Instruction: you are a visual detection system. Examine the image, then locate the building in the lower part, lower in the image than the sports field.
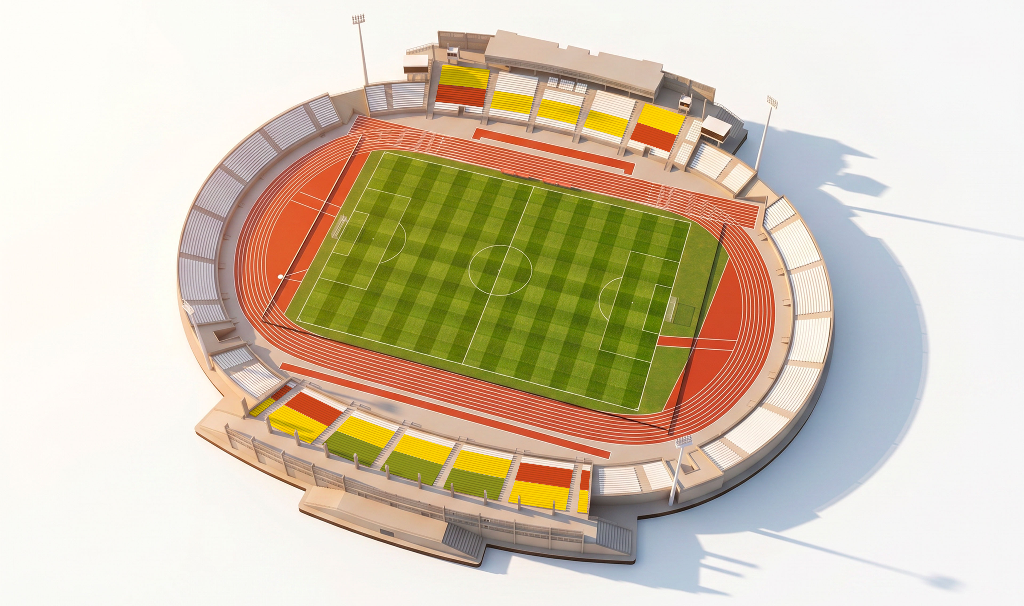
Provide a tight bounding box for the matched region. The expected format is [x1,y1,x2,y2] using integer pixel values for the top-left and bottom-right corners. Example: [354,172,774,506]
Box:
[308,491,481,558]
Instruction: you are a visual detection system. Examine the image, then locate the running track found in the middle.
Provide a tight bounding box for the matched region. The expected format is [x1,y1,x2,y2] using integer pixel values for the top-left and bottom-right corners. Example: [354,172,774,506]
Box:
[233,122,776,445]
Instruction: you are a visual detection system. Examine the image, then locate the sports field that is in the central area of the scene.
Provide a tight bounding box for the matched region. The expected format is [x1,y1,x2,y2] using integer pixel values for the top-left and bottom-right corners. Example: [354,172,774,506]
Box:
[297,151,691,410]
